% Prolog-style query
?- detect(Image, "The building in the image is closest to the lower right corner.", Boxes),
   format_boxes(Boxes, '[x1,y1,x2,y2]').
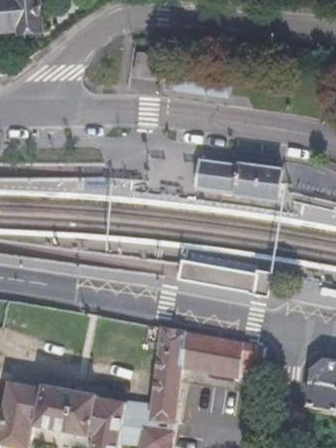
[304,358,336,414]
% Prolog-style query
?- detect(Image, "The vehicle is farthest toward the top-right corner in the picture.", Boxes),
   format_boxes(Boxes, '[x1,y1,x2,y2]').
[285,148,309,160]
